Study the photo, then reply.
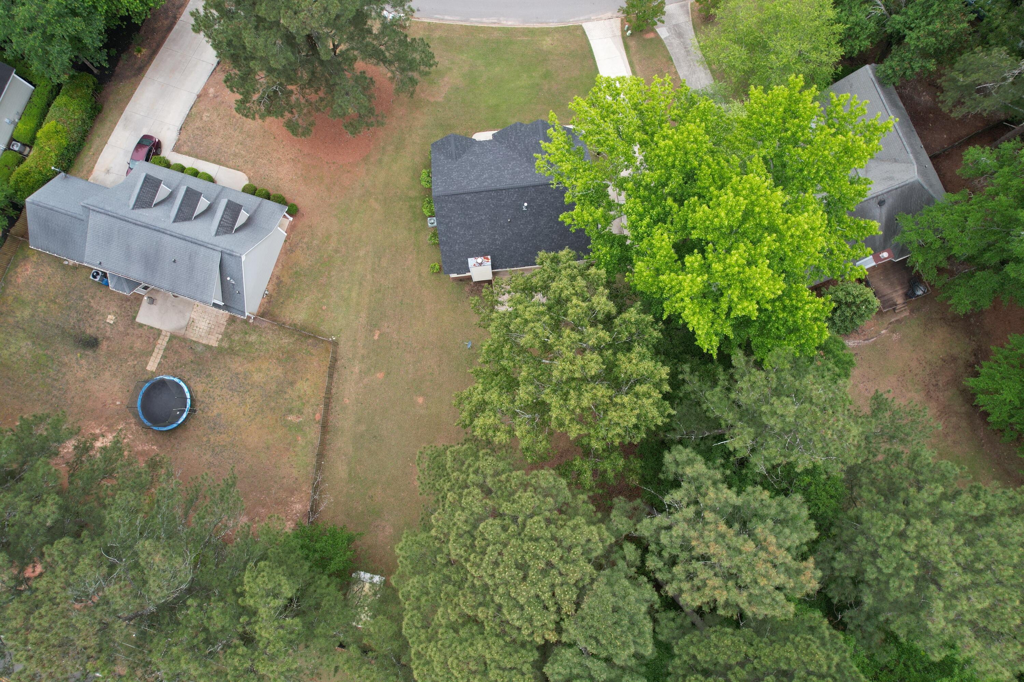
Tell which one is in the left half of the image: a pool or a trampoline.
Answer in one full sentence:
What appears in the left half of the image is a trampoline.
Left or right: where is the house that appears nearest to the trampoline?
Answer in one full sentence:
It is on the left.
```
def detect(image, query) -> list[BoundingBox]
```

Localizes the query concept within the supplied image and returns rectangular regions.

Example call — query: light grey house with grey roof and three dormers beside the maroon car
[25,160,294,322]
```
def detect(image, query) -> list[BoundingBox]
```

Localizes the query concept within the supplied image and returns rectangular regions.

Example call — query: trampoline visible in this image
[126,377,198,432]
